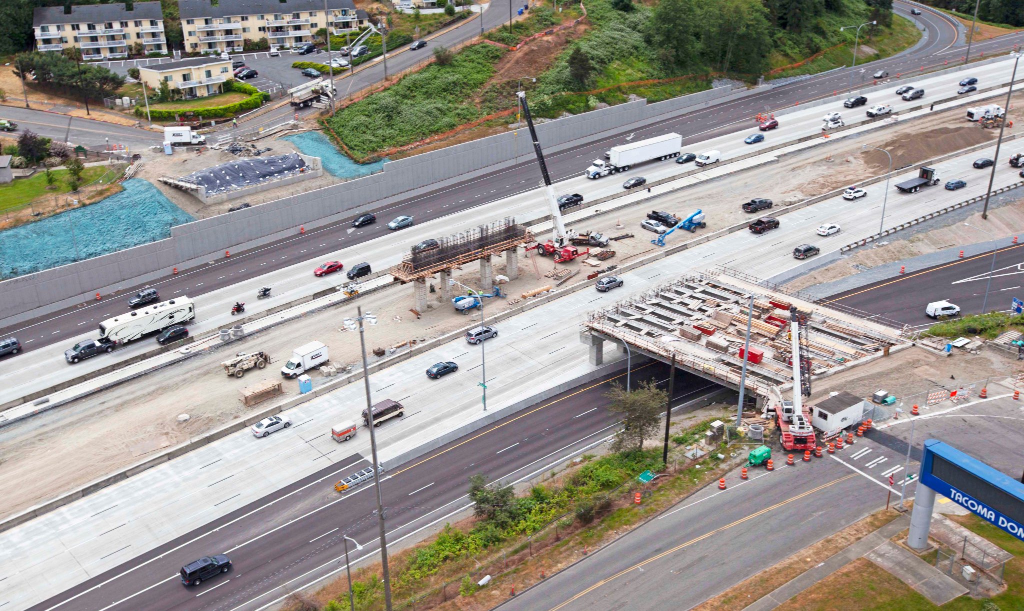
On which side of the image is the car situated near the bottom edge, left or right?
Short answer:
left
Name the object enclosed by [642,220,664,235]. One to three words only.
car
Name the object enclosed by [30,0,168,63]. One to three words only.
building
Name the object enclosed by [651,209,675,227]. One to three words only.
vehicle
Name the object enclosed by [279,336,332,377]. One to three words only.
truck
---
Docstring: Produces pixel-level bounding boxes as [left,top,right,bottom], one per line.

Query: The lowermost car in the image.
[177,553,233,590]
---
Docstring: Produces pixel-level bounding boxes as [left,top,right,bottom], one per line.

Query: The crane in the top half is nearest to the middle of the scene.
[518,90,587,270]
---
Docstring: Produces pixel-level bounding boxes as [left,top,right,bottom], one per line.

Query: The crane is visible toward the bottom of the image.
[757,305,821,454]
